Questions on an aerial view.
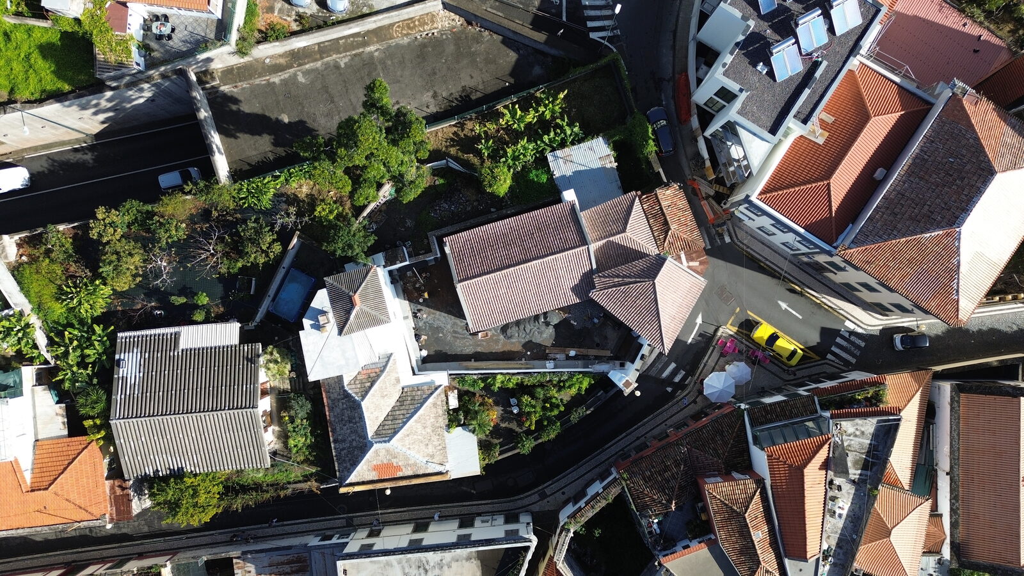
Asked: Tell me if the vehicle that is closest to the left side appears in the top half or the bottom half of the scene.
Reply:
top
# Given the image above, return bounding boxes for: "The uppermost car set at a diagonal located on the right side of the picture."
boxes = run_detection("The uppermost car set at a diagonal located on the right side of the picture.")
[750,324,804,366]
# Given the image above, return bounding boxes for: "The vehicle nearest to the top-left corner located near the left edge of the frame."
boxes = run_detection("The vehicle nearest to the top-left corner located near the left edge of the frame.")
[0,166,32,190]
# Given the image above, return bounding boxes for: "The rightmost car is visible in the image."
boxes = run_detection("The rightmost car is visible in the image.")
[893,331,930,353]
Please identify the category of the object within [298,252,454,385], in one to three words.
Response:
house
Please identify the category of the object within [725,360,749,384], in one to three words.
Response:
umbrella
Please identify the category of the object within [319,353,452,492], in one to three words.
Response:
house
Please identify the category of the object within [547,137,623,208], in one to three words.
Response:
shed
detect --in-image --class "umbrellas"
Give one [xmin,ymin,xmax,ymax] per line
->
[702,370,733,401]
[725,360,749,384]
